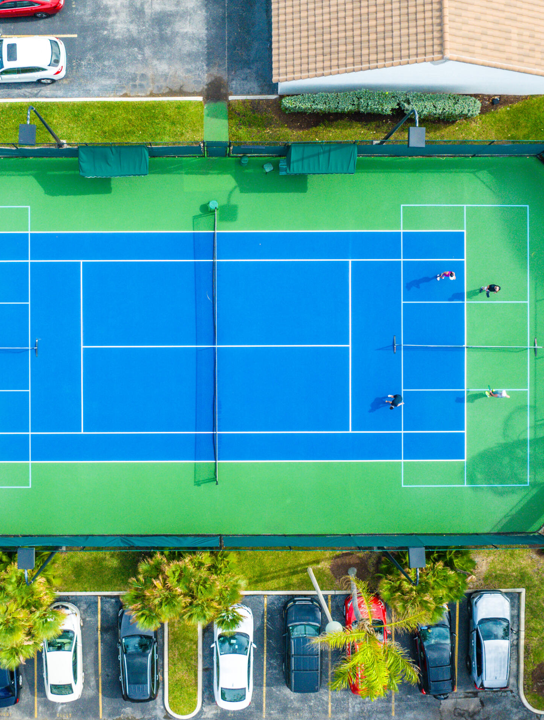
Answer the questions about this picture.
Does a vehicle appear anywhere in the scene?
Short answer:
Yes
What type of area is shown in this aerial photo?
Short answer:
sports ground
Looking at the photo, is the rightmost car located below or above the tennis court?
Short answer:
below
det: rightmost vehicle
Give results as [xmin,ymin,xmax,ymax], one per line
[464,588,517,695]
